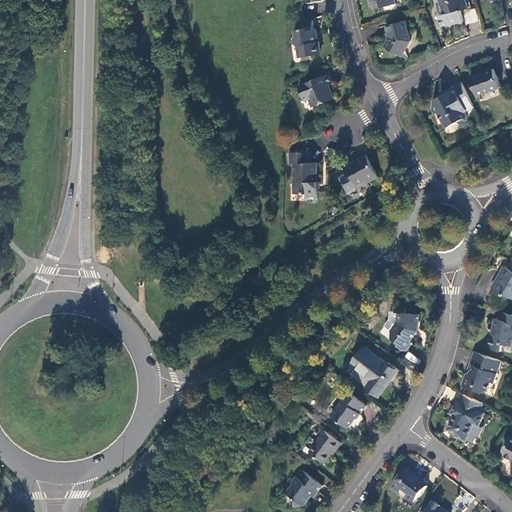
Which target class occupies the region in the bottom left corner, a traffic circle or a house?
traffic circle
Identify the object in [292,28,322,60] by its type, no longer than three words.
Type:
house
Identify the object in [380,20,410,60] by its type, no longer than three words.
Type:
house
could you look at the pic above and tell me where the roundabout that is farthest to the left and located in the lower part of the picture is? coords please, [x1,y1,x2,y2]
[0,290,161,485]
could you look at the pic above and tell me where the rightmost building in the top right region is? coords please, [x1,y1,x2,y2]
[467,68,498,100]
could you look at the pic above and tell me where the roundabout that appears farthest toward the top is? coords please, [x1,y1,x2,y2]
[396,182,487,274]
